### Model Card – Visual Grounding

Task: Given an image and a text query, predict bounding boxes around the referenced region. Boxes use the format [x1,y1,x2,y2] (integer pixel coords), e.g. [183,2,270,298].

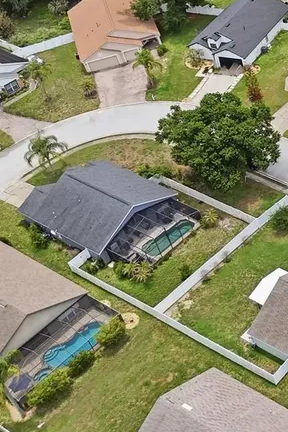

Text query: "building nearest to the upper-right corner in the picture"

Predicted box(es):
[184,0,288,68]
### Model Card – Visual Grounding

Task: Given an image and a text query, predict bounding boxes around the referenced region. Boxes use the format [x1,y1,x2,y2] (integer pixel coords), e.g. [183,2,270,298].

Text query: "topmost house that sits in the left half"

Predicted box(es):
[67,0,159,74]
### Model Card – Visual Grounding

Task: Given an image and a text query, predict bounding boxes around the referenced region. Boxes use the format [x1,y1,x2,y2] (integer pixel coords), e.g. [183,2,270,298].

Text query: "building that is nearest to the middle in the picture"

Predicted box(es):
[13,160,174,262]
